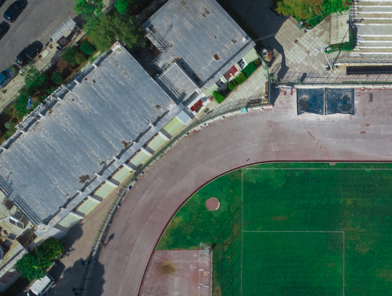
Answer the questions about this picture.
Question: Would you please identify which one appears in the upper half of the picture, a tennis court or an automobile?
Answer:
automobile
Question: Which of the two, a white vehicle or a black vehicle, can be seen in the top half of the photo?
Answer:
black vehicle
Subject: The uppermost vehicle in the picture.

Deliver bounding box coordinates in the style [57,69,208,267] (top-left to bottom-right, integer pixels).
[0,0,24,20]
